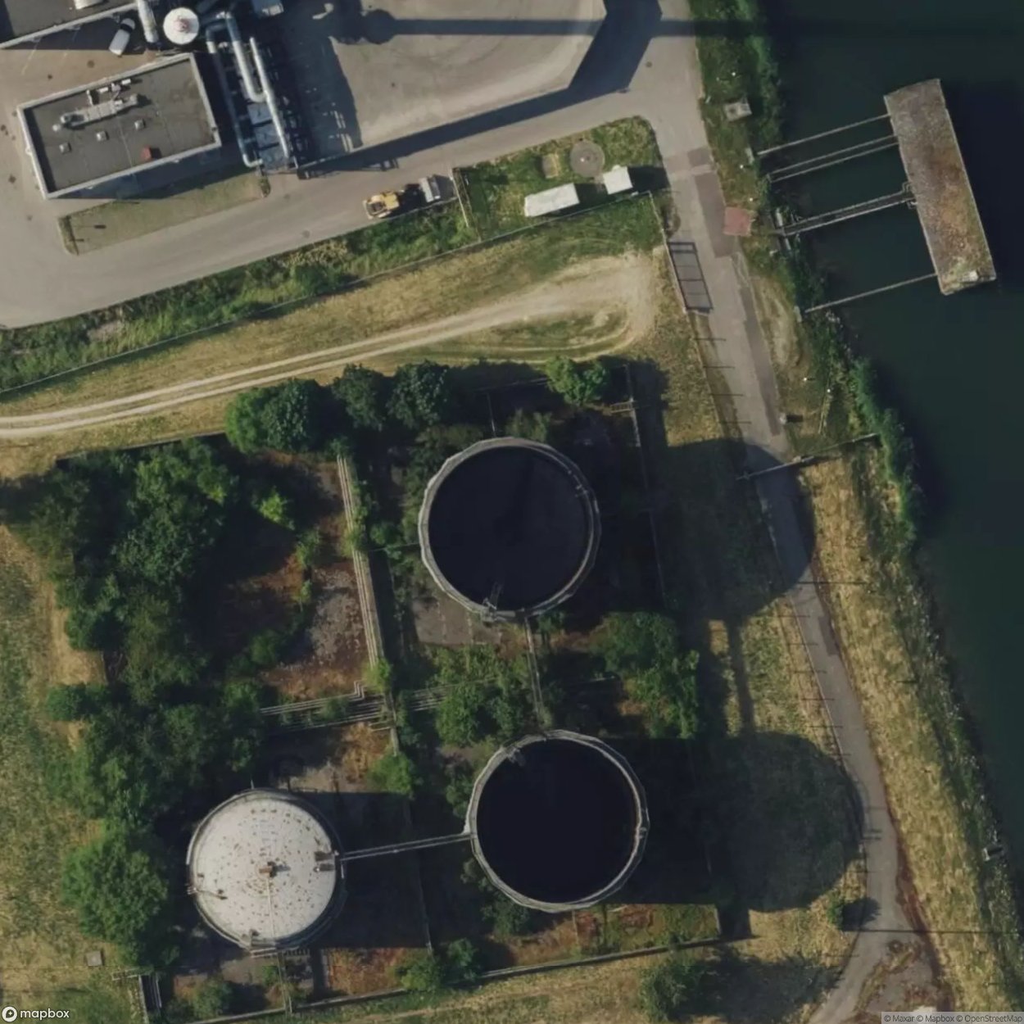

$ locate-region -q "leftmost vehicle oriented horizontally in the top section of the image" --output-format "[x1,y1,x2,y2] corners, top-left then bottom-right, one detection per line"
[364,174,443,217]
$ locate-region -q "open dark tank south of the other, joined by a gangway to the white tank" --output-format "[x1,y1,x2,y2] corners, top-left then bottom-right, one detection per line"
[464,731,648,911]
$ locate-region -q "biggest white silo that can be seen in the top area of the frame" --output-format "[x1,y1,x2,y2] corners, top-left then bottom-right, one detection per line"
[163,8,199,44]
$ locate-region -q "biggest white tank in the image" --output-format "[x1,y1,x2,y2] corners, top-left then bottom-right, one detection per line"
[186,790,346,959]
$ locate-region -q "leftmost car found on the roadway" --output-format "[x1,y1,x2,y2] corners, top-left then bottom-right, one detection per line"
[107,17,135,53]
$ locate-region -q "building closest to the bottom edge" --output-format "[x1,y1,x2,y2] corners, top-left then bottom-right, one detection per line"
[17,53,221,198]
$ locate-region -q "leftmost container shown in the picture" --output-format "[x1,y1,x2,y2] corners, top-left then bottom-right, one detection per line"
[525,183,579,216]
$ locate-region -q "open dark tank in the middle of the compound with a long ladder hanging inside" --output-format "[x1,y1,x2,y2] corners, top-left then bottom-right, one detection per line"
[420,439,599,623]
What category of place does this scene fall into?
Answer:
industrial area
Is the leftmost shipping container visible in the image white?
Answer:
Yes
